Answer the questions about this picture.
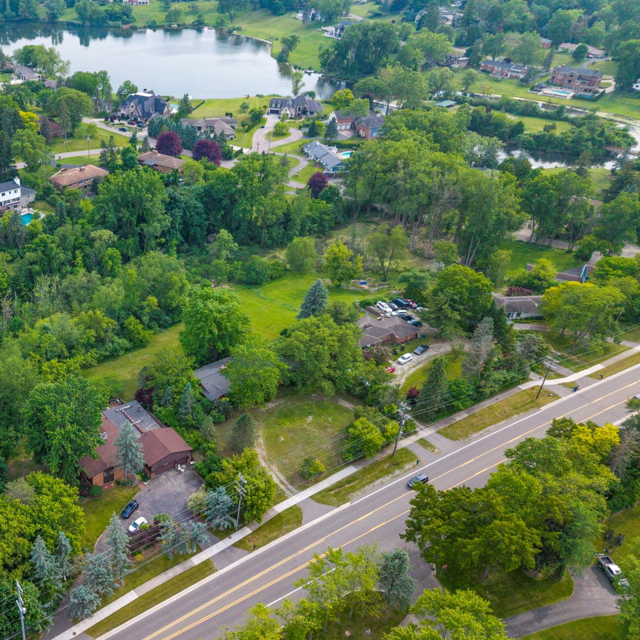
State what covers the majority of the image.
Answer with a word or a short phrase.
trees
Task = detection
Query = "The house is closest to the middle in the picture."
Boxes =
[338,312,419,359]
